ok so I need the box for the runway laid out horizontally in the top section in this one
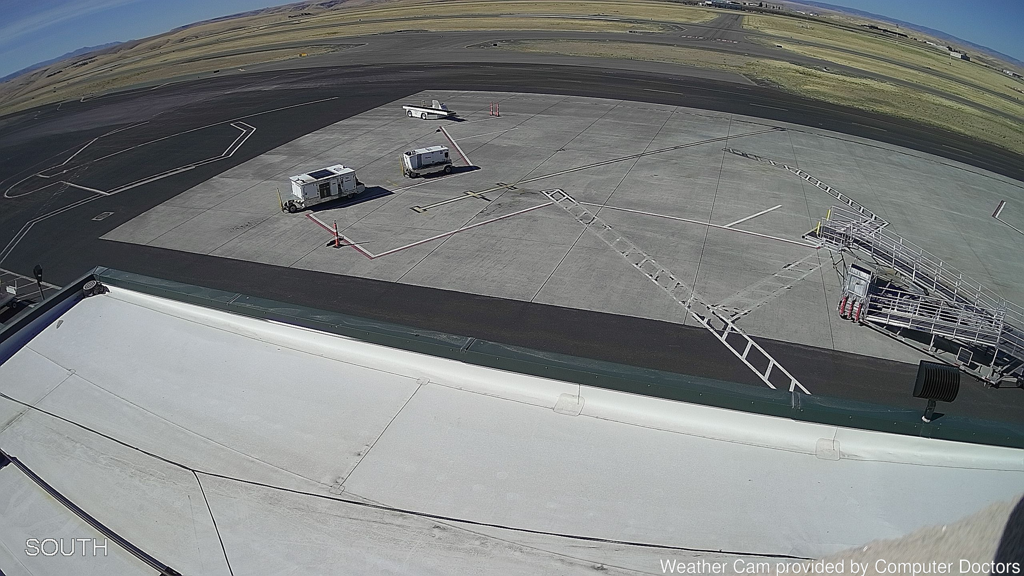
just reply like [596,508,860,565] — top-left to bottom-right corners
[3,14,1024,105]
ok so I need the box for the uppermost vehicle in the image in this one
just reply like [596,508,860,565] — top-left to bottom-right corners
[402,99,457,120]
